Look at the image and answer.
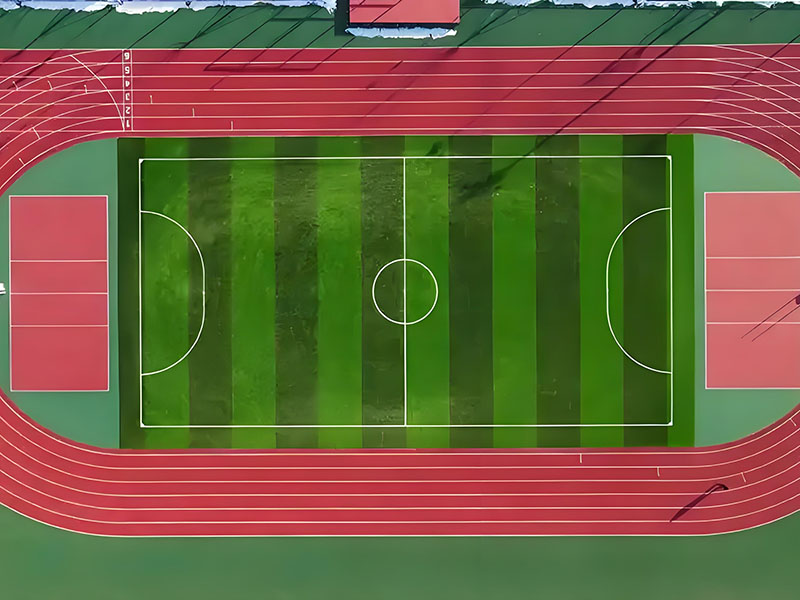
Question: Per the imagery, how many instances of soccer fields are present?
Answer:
1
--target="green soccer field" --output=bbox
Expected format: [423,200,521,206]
[118,134,695,449]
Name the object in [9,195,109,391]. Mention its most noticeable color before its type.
red sports court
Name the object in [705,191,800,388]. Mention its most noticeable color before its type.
pink sports court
